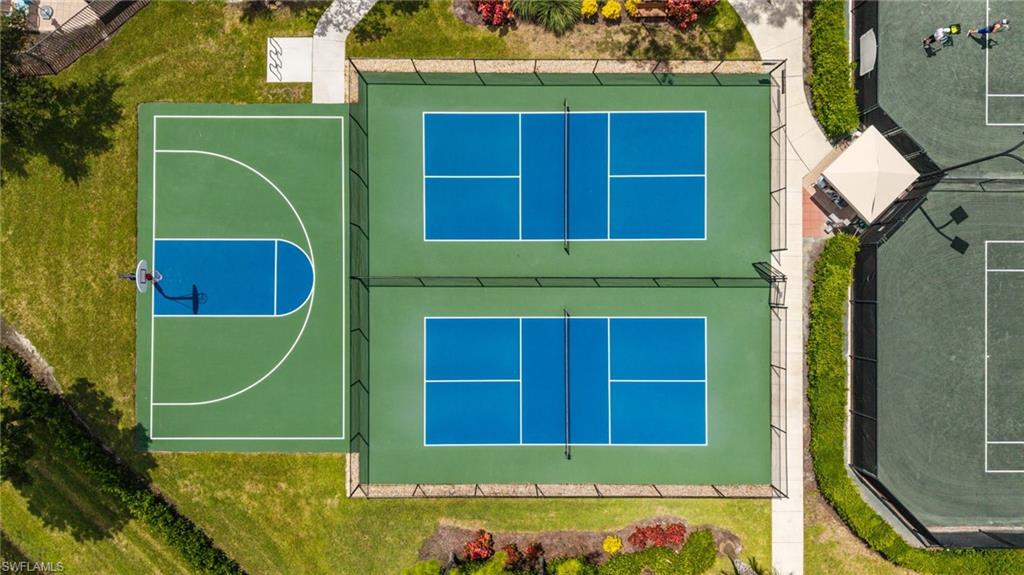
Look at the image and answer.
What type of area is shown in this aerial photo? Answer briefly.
sports ground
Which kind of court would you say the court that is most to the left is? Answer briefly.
basketball court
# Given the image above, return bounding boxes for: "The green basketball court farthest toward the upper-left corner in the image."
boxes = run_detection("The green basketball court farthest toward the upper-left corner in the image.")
[136,104,359,453]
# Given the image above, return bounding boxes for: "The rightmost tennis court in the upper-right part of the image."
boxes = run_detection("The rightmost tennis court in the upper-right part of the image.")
[878,0,1024,176]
